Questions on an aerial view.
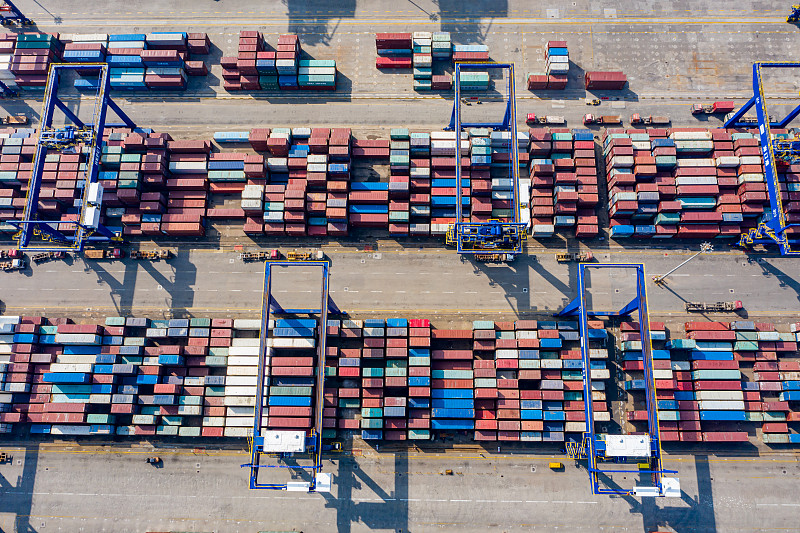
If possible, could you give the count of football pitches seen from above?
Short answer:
zero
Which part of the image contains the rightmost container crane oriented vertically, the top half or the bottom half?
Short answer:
top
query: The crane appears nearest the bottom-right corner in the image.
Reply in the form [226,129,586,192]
[553,259,685,499]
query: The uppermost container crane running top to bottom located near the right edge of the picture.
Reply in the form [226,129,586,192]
[716,57,800,257]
